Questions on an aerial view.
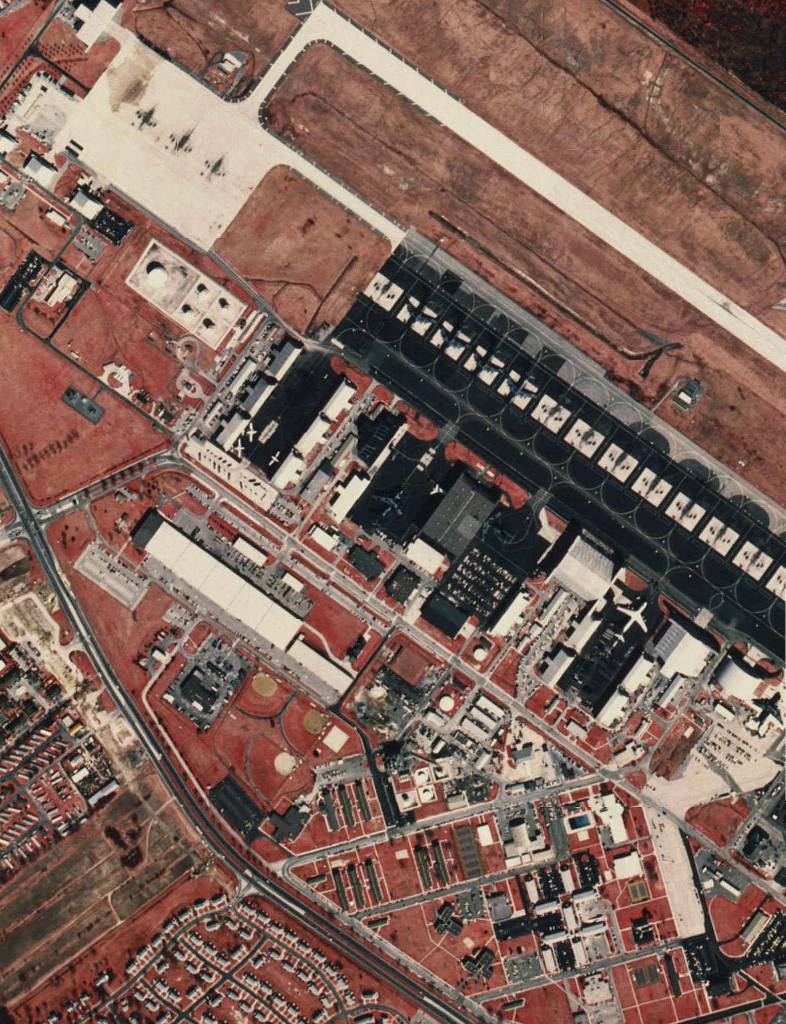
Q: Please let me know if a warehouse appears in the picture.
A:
Yes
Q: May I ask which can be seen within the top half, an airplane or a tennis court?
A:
airplane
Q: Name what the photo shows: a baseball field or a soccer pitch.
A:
baseball field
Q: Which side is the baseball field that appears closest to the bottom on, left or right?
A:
left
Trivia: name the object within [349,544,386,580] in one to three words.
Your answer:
building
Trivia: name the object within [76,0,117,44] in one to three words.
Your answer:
hangar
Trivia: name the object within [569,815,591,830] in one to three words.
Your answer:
swimming pool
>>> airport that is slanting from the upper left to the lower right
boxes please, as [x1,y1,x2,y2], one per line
[2,0,786,739]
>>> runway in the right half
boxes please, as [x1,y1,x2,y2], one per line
[301,2,786,371]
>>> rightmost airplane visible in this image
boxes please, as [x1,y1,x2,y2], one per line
[751,690,783,729]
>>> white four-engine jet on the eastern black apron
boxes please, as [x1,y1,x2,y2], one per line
[616,598,648,638]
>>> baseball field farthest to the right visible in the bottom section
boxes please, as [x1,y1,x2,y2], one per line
[280,695,333,757]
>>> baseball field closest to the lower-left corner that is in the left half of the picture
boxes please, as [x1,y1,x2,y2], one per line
[246,731,304,804]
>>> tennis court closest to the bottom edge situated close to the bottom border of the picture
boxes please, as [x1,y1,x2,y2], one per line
[632,964,662,988]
